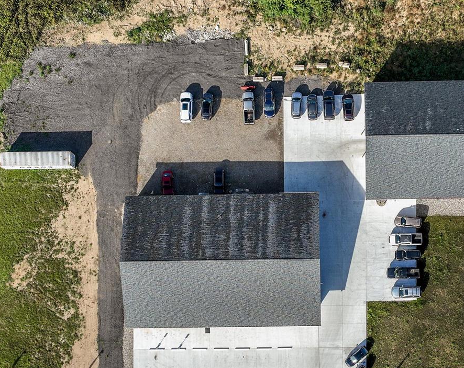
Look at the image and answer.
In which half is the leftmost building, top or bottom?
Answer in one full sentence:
It is in the bottom half that the leftmost building appears.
